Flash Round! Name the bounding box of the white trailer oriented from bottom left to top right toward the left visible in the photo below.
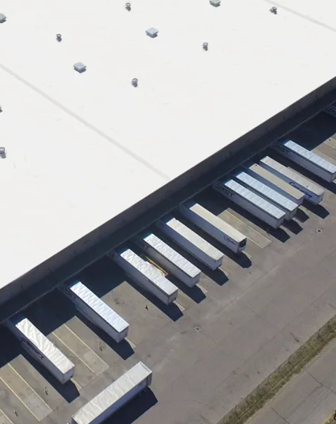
[71,361,152,424]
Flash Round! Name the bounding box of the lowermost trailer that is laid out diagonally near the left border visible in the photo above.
[1,310,74,386]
